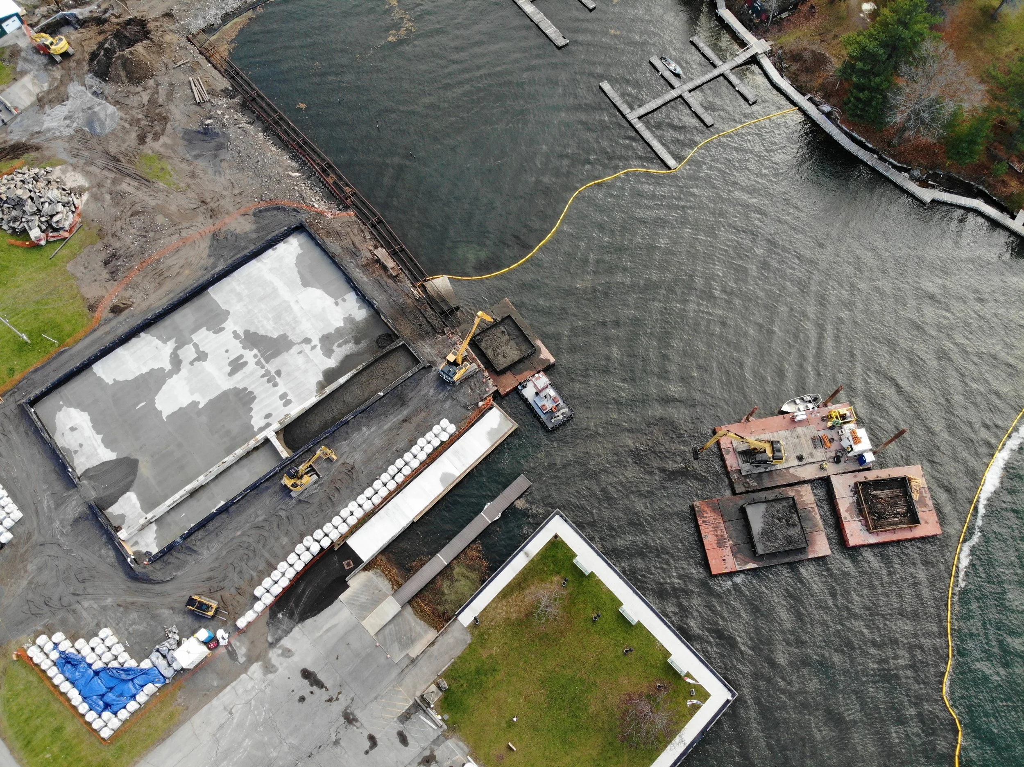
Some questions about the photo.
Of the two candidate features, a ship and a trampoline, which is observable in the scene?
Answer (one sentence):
Visible in the photo is a ship.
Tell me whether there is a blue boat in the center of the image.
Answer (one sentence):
No, no blue boat is visible in the center of the image.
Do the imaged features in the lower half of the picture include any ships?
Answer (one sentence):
Yes, a ship shows up in the lower half of the picture.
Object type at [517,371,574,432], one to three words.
boat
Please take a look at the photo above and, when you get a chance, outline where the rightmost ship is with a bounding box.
[824,465,941,549]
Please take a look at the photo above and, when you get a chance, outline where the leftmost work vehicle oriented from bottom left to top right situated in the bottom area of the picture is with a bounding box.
[276,443,343,498]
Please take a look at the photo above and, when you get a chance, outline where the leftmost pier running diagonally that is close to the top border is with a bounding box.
[513,0,569,49]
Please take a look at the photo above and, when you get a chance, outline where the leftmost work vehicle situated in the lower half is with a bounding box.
[177,592,227,620]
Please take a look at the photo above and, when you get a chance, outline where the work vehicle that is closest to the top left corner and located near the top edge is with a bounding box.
[33,23,77,64]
